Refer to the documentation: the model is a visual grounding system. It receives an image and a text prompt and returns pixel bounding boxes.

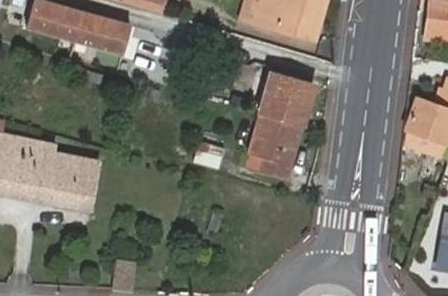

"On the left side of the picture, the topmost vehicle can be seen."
[138,42,163,56]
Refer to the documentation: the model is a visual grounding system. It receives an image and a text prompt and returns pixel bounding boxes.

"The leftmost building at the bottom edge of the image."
[112,260,136,293]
